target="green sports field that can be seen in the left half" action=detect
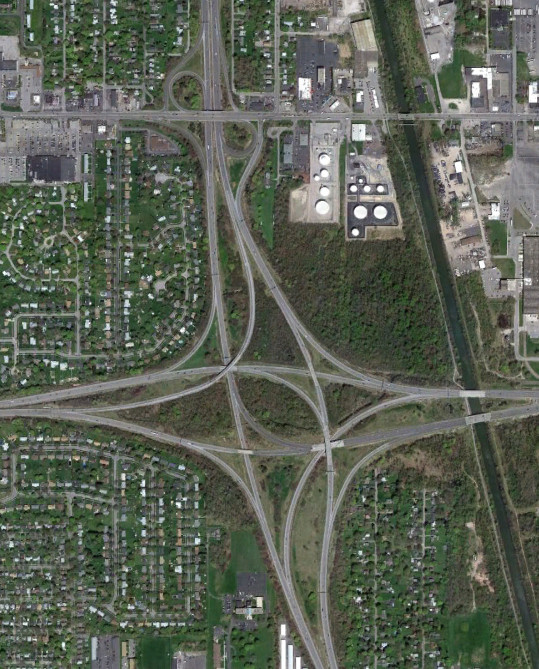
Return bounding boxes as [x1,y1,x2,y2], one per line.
[142,638,170,669]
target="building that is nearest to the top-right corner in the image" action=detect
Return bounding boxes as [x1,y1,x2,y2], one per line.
[491,8,508,26]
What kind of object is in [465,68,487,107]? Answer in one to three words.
building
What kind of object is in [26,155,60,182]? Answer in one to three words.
building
